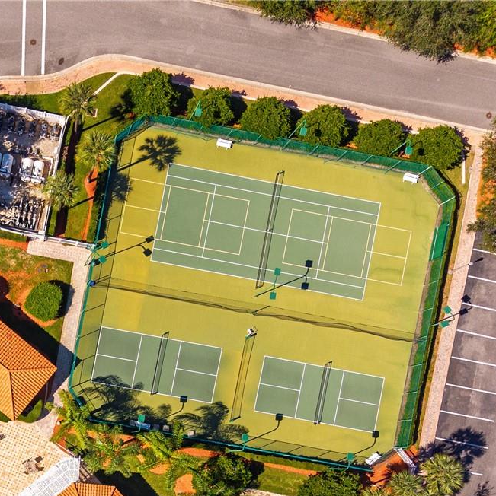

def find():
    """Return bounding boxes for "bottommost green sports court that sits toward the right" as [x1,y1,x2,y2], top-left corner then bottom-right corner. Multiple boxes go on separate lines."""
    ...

[255,356,385,433]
